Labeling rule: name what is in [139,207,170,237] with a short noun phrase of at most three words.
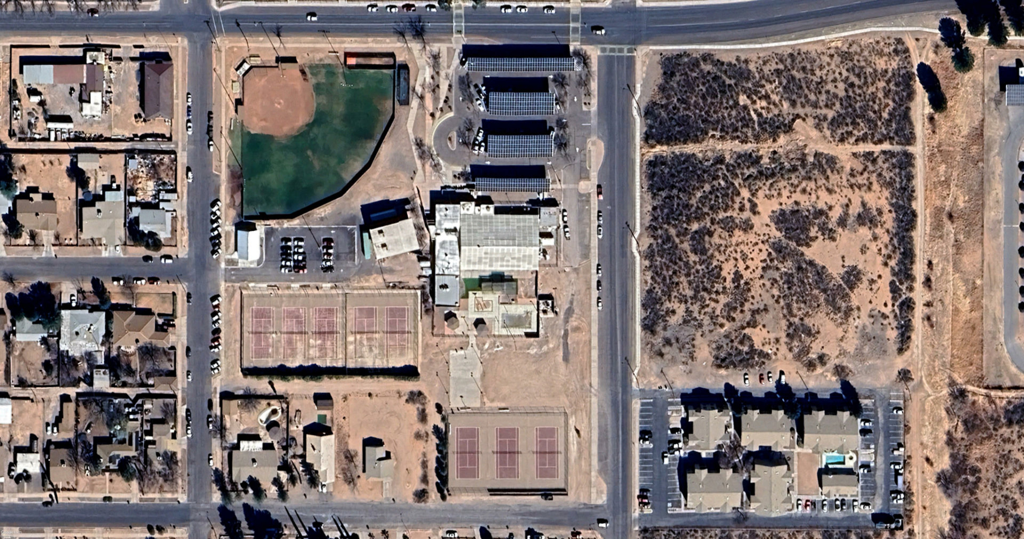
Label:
house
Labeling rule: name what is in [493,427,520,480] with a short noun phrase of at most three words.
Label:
tennis court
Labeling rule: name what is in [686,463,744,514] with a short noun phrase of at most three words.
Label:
building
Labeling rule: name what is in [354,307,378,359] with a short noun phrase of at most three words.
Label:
tennis court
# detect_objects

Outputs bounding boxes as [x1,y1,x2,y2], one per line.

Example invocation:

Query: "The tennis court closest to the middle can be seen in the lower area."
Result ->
[385,307,410,359]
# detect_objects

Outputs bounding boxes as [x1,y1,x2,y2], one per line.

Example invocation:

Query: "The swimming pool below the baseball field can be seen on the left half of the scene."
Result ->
[258,407,280,427]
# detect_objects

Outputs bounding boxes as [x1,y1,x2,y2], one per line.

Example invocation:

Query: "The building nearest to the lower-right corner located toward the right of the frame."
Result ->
[822,471,859,500]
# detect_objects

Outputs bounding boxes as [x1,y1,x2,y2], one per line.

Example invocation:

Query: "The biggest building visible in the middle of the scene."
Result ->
[429,196,560,306]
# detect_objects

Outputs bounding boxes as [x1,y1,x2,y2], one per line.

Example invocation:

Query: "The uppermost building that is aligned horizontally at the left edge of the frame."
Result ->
[23,61,86,83]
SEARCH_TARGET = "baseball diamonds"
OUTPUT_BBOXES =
[243,63,395,218]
